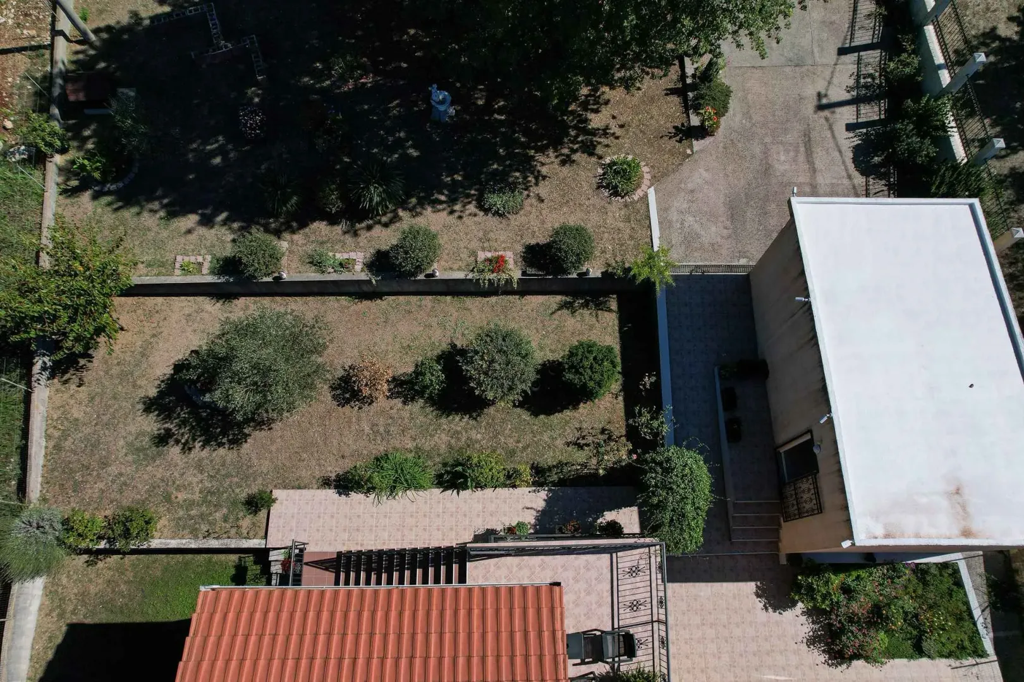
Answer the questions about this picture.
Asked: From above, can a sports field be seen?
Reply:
No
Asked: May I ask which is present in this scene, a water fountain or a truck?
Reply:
water fountain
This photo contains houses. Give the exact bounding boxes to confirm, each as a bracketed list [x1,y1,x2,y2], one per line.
[750,197,1024,554]
[166,576,572,682]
